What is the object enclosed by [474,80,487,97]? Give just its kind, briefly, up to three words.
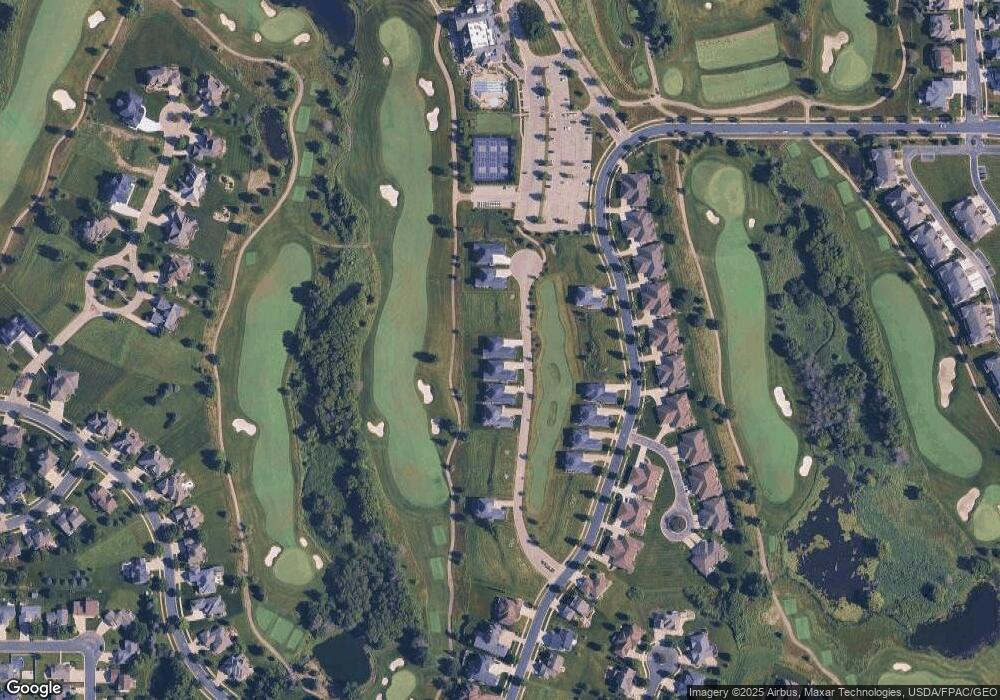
swimming pool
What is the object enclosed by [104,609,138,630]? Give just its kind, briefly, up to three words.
house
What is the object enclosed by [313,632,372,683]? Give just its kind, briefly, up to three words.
pond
